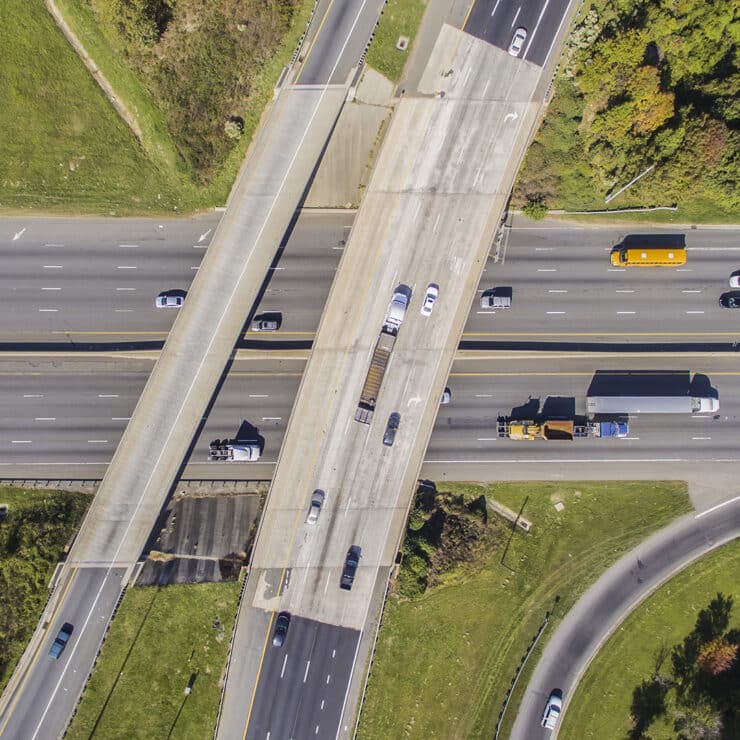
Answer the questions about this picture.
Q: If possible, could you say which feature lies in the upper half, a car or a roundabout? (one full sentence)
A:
Looking in the upper half, you will find a car.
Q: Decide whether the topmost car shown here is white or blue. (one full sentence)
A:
In this view, the topmost car is white.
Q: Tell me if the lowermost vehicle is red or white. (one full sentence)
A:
In this view, the lowermost vehicle is white.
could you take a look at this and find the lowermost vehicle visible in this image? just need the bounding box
[541,690,561,729]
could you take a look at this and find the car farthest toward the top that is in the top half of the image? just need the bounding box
[507,27,528,59]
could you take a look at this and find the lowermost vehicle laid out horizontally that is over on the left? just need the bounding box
[212,442,262,462]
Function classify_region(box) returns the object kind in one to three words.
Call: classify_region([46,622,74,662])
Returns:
truck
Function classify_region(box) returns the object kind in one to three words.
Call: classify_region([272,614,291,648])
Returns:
car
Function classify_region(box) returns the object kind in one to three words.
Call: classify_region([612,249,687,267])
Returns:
vehicle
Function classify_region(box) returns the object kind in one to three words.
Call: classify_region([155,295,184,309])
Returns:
vehicle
